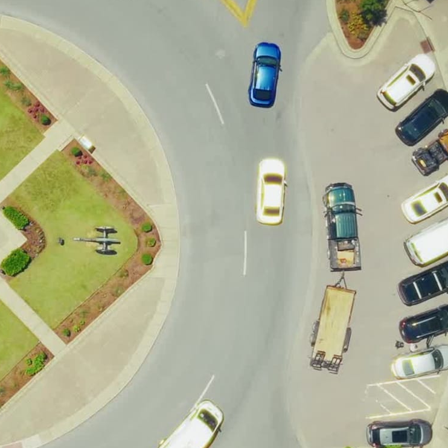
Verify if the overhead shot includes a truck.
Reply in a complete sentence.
Yes, the image includes a truck.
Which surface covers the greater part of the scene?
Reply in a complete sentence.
Most of the picture is covered by paved ground.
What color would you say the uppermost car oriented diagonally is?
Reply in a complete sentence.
The uppermost car oriented diagonally is white.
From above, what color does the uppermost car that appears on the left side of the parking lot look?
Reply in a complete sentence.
The color of the uppermost car that appears on the left side of the parking lot is blue.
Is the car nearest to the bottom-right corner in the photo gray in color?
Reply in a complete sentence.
Yes, the car nearest to the bottom-right corner is indeed gray.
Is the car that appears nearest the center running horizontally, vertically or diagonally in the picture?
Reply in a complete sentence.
In this picture, the car that appears nearest the center is oriented vertically.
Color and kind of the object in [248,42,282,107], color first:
blue car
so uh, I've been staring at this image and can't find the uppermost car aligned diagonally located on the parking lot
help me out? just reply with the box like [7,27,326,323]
[373,54,437,110]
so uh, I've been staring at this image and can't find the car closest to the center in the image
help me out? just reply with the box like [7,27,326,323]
[255,159,289,223]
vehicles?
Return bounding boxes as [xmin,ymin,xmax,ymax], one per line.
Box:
[248,42,282,107]
[255,159,289,223]
[400,220,448,266]
[396,261,448,305]
[399,175,448,225]
[324,183,365,272]
[373,54,437,110]
[365,418,431,448]
[391,88,448,145]
[390,342,448,379]
[397,305,448,347]
[163,394,228,448]
[406,130,448,178]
